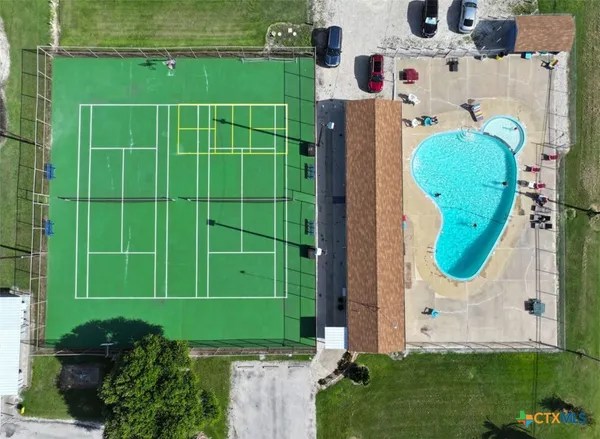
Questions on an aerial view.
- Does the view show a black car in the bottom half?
No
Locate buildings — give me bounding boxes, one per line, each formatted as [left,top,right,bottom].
[346,98,405,354]
[0,297,35,397]
[506,14,576,55]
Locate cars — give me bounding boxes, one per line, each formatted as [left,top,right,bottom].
[419,0,439,38]
[367,56,386,93]
[325,26,343,67]
[457,0,477,34]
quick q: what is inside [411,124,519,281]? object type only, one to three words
swimming pool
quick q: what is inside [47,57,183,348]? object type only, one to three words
tennis court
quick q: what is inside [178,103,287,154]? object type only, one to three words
sports court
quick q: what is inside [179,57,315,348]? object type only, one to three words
tennis court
